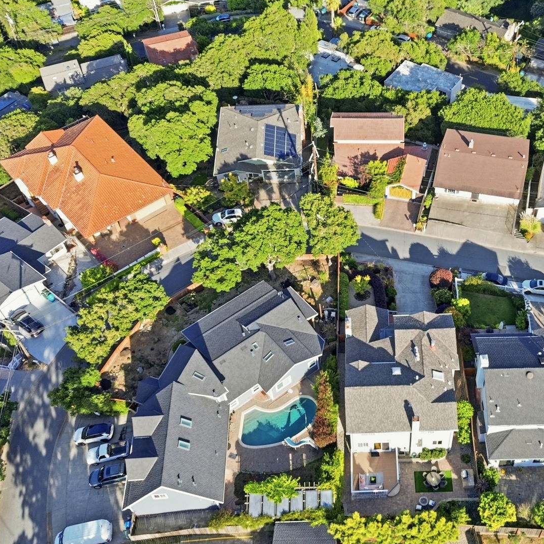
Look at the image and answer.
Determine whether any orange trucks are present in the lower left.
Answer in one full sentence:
No, I can find no orange truck in the lower left.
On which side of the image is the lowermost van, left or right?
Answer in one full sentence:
The lowermost van sits on the left side.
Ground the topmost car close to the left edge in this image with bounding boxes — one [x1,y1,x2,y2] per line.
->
[11,314,43,338]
